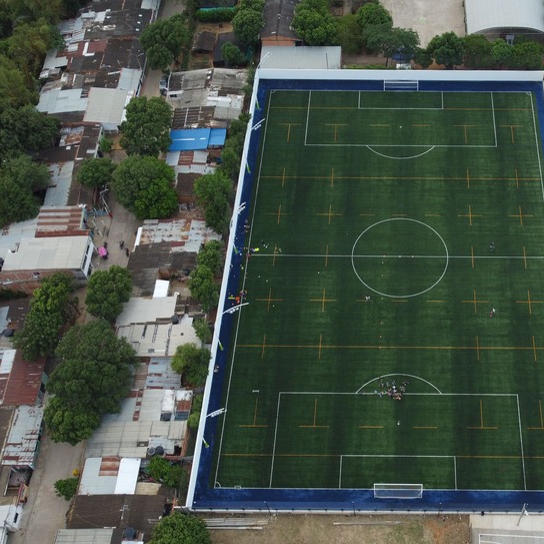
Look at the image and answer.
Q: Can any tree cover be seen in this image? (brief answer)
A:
Yes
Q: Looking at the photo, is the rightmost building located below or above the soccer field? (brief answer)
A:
above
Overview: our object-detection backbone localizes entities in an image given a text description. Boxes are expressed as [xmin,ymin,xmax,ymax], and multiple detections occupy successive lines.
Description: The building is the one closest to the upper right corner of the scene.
[462,0,544,45]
